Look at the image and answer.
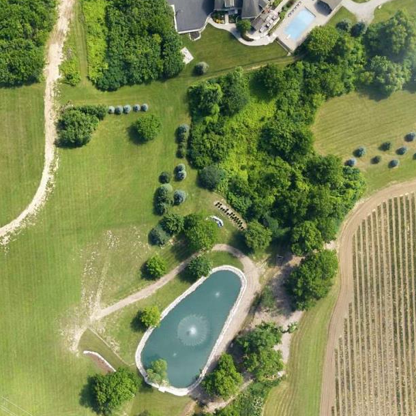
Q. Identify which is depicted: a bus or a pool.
pool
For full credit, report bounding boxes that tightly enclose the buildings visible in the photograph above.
[318,0,342,13]
[212,0,274,22]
